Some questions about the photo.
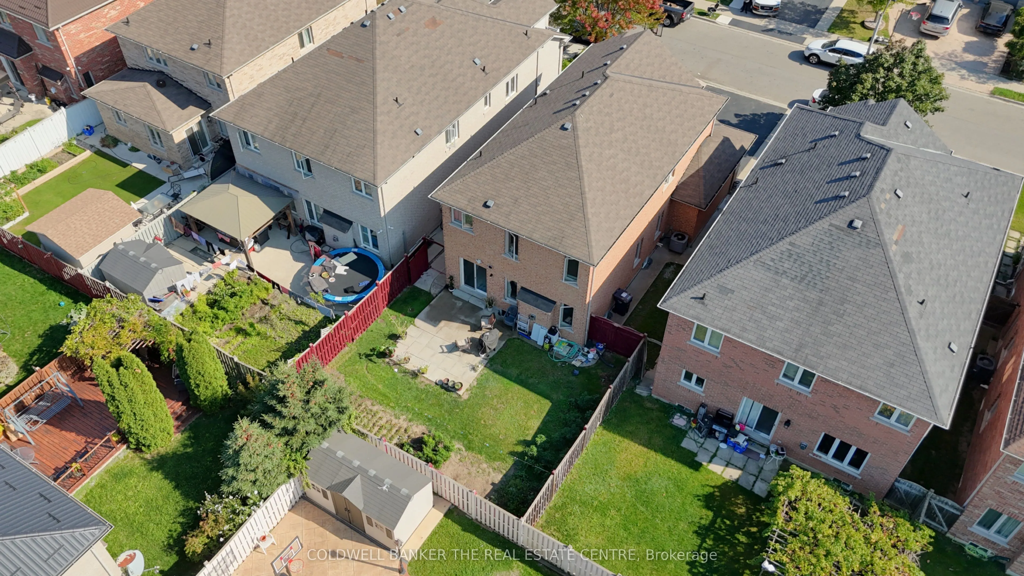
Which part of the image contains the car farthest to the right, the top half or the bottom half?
top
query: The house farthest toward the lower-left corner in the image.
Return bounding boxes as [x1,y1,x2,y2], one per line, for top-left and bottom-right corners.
[0,443,120,576]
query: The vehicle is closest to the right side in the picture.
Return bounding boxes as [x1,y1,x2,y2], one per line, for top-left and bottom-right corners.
[980,1,1021,38]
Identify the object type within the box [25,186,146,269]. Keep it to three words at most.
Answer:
shed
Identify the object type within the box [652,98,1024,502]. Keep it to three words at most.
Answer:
house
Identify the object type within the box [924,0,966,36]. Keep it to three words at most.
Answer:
car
